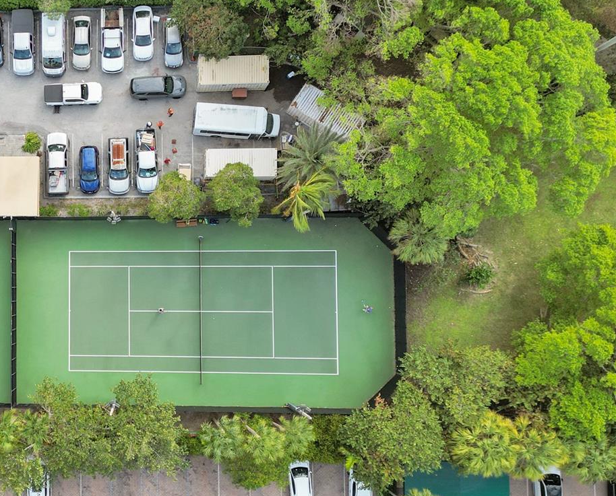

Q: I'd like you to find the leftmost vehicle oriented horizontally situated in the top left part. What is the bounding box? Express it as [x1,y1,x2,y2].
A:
[44,78,102,106]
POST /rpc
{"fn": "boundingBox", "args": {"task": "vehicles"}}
[191,102,281,138]
[106,138,133,196]
[77,145,102,195]
[131,73,186,100]
[131,11,156,62]
[161,19,186,71]
[29,457,53,496]
[44,133,71,196]
[9,7,37,78]
[69,17,94,73]
[99,6,126,75]
[346,462,372,496]
[135,127,161,194]
[44,78,102,106]
[40,8,67,80]
[532,467,565,496]
[289,456,315,496]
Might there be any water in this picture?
No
